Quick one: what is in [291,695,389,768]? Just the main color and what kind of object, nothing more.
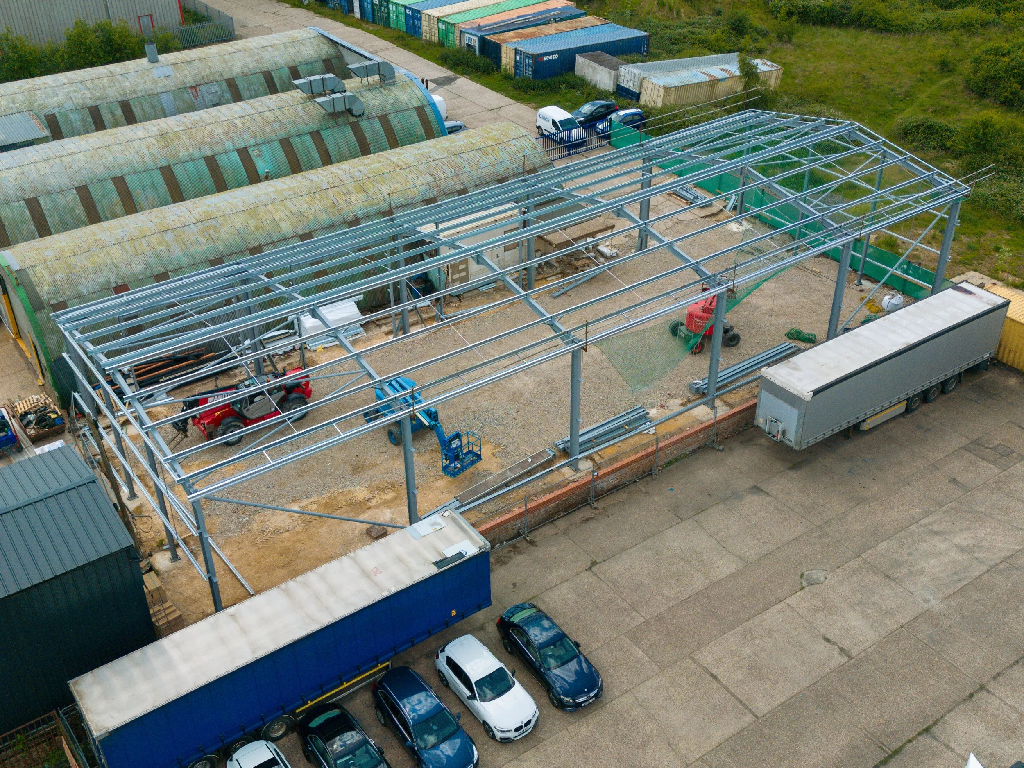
black car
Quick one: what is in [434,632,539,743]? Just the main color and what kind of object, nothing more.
white car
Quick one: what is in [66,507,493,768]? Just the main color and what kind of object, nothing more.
white trailer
